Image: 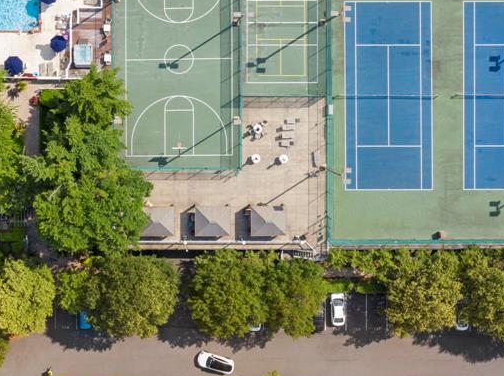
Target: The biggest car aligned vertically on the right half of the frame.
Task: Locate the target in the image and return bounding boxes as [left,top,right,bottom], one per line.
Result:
[329,292,347,330]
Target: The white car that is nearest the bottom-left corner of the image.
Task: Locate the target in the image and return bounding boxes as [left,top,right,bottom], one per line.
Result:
[197,350,235,373]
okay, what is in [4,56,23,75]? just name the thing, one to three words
umbrella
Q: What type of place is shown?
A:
sports ground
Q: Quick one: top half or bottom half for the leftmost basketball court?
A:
top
